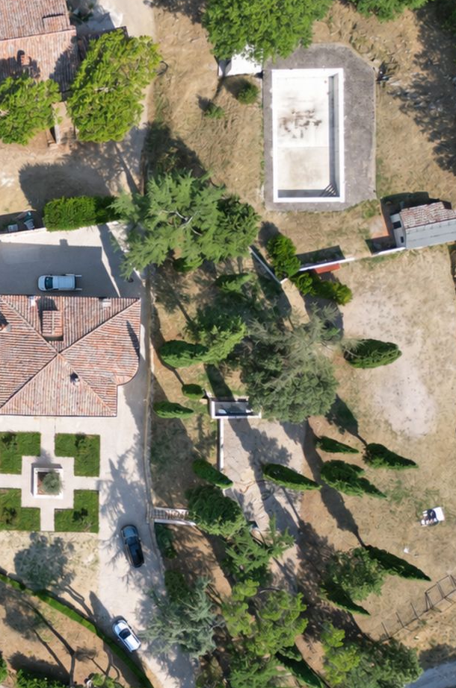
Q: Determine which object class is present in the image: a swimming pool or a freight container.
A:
swimming pool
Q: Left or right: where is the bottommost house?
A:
left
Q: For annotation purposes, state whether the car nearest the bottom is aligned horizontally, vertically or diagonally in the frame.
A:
diagonally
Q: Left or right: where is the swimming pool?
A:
right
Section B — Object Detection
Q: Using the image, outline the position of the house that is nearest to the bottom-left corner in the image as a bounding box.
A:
[0,294,142,417]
